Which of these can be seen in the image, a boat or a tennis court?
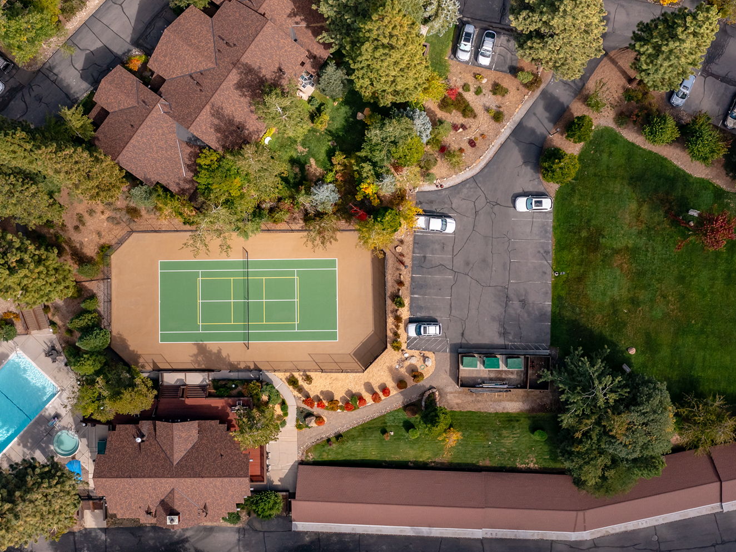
tennis court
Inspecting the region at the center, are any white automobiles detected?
Yes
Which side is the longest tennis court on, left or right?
left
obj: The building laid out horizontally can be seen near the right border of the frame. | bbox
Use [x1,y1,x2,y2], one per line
[483,445,722,541]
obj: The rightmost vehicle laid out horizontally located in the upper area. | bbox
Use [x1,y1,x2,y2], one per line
[515,194,553,213]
